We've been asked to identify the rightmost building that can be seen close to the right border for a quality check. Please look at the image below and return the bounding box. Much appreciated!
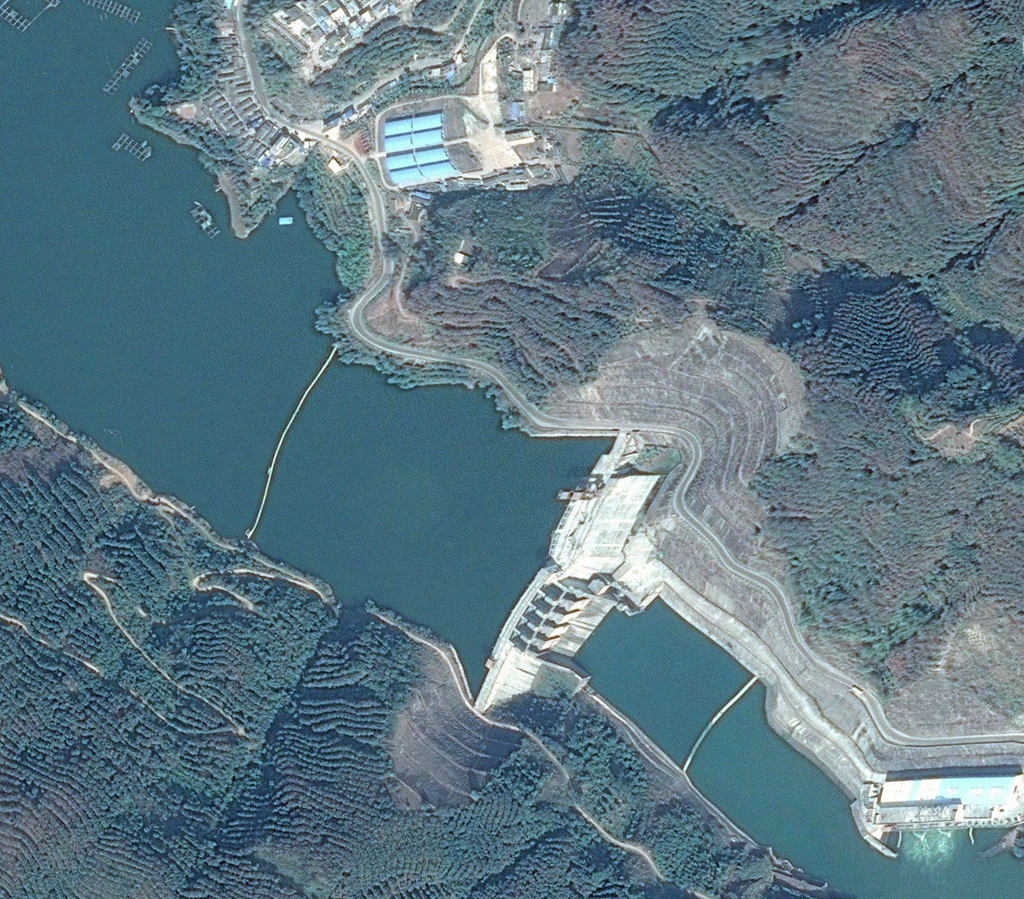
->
[873,775,1024,831]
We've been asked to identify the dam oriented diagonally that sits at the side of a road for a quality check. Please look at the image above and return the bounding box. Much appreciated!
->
[475,433,662,712]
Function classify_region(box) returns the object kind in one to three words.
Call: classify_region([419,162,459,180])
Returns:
building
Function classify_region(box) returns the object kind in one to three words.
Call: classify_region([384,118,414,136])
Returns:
building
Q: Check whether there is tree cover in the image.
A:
Yes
